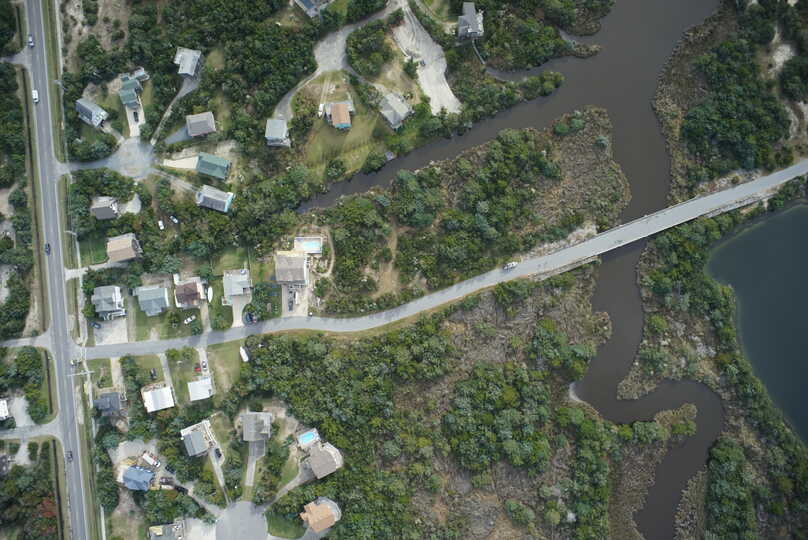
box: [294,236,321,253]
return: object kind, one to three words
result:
swimming pool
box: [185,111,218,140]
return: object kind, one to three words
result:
house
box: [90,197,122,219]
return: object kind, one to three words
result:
house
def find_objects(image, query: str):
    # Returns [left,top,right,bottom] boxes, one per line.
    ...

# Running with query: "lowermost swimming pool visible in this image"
[296,429,322,451]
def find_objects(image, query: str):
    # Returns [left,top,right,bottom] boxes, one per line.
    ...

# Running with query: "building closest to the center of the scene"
[275,250,309,287]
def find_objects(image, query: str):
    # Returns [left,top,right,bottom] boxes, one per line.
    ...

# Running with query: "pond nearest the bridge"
[705,203,808,448]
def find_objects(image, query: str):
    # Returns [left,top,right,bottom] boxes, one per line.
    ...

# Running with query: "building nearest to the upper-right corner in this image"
[457,0,485,39]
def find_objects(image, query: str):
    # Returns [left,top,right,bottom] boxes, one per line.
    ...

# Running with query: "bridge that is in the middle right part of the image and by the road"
[587,197,703,254]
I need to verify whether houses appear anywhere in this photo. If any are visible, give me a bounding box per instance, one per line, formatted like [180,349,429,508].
[196,152,234,178]
[92,287,126,320]
[266,119,290,146]
[457,0,485,39]
[185,111,218,140]
[74,96,110,126]
[298,496,341,531]
[140,382,177,411]
[326,100,356,130]
[0,455,17,478]
[133,284,170,315]
[90,197,122,219]
[242,411,273,441]
[194,184,235,212]
[148,517,187,540]
[118,66,150,111]
[275,250,309,287]
[301,445,343,479]
[188,376,215,399]
[221,269,253,305]
[173,274,205,308]
[179,420,219,456]
[172,47,204,77]
[0,396,14,419]
[378,92,413,129]
[122,459,158,491]
[107,231,144,261]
